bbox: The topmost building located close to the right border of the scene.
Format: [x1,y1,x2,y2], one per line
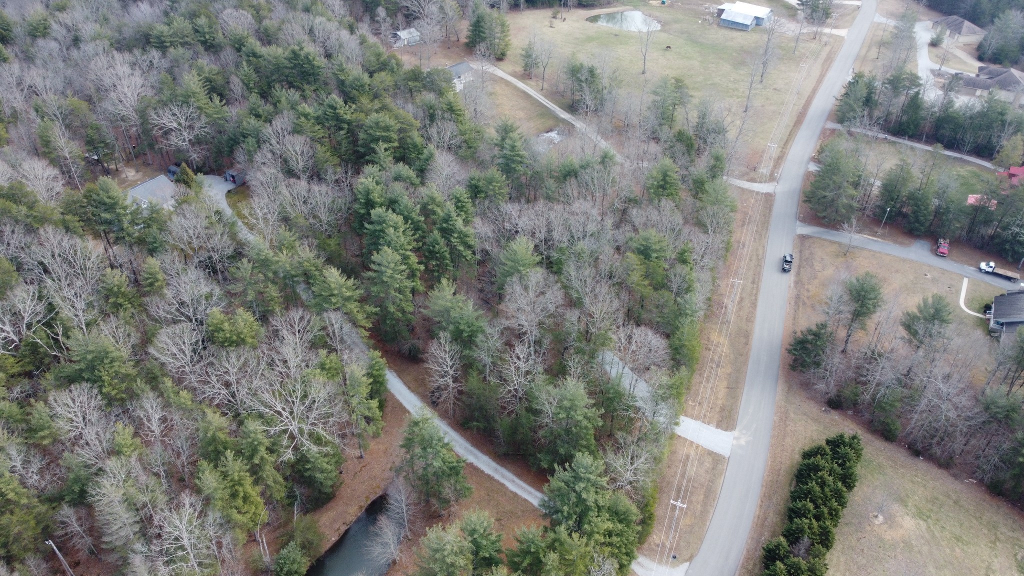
[930,15,988,41]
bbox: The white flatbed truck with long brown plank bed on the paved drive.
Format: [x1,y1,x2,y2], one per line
[978,263,1024,284]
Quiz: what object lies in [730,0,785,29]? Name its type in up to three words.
barn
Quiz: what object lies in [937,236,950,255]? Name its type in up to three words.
vehicle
